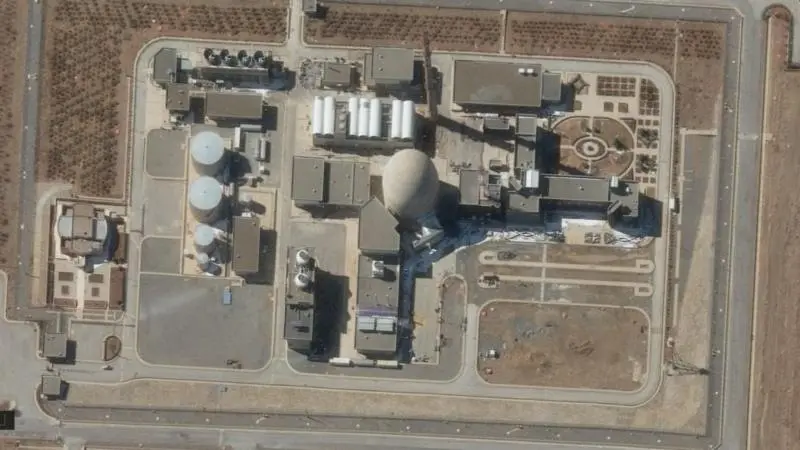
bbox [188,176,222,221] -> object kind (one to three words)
storage tank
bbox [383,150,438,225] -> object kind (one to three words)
building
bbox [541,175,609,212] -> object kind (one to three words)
building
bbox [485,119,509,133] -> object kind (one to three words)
house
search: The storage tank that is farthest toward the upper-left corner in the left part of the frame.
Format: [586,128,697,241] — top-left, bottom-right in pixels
[191,132,225,177]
